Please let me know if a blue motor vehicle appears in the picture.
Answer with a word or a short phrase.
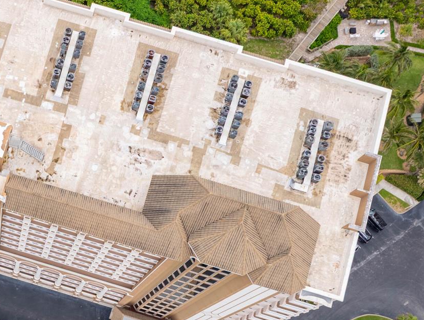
No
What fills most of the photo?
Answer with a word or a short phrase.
buildings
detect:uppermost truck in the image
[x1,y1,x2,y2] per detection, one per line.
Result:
[369,209,396,238]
